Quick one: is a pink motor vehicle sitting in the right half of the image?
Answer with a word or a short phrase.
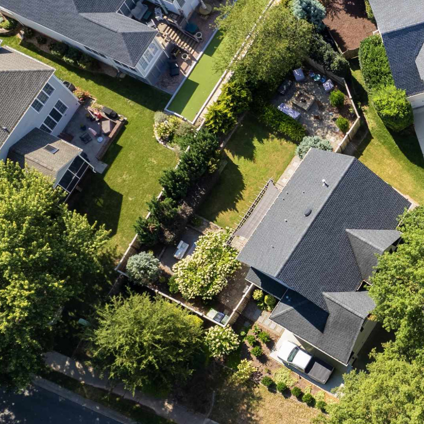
No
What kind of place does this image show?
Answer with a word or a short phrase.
residential area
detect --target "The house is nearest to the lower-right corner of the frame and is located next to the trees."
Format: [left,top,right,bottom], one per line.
[236,148,413,372]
